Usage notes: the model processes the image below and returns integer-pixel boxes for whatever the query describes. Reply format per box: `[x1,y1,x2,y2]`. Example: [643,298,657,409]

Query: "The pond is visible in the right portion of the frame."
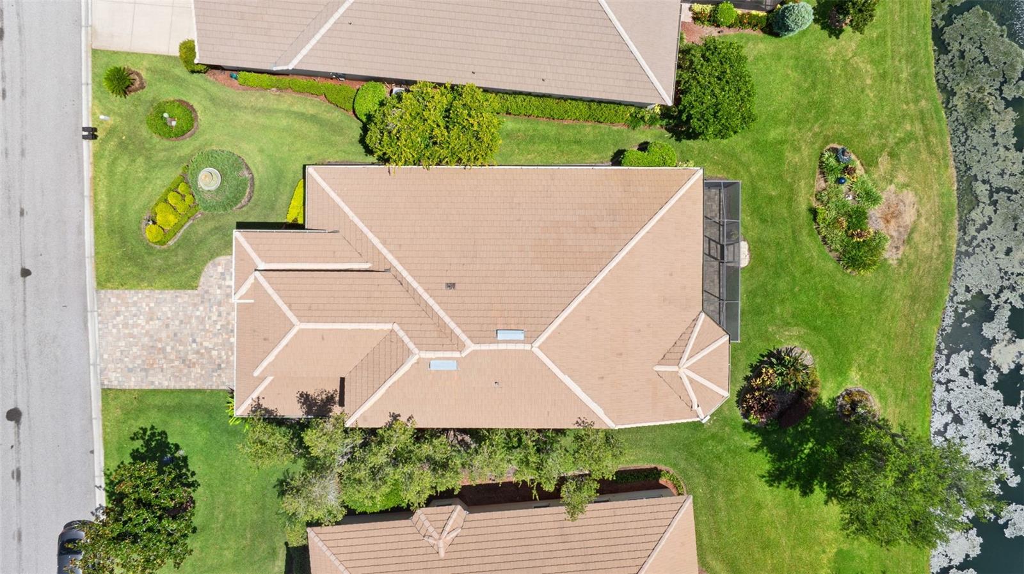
[922,0,1024,574]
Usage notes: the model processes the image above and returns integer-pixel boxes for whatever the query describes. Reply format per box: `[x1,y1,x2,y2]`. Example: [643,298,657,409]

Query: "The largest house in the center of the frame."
[232,165,731,430]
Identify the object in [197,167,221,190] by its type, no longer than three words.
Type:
fountain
